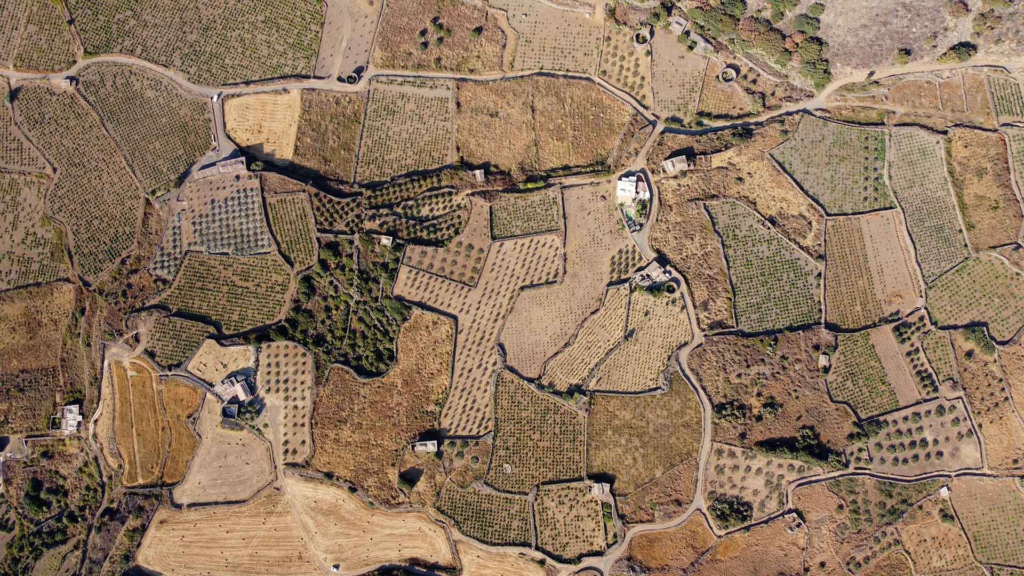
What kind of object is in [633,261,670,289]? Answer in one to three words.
house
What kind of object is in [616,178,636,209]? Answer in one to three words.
house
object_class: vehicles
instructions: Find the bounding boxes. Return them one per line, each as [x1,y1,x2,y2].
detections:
[211,93,218,102]
[329,565,338,572]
